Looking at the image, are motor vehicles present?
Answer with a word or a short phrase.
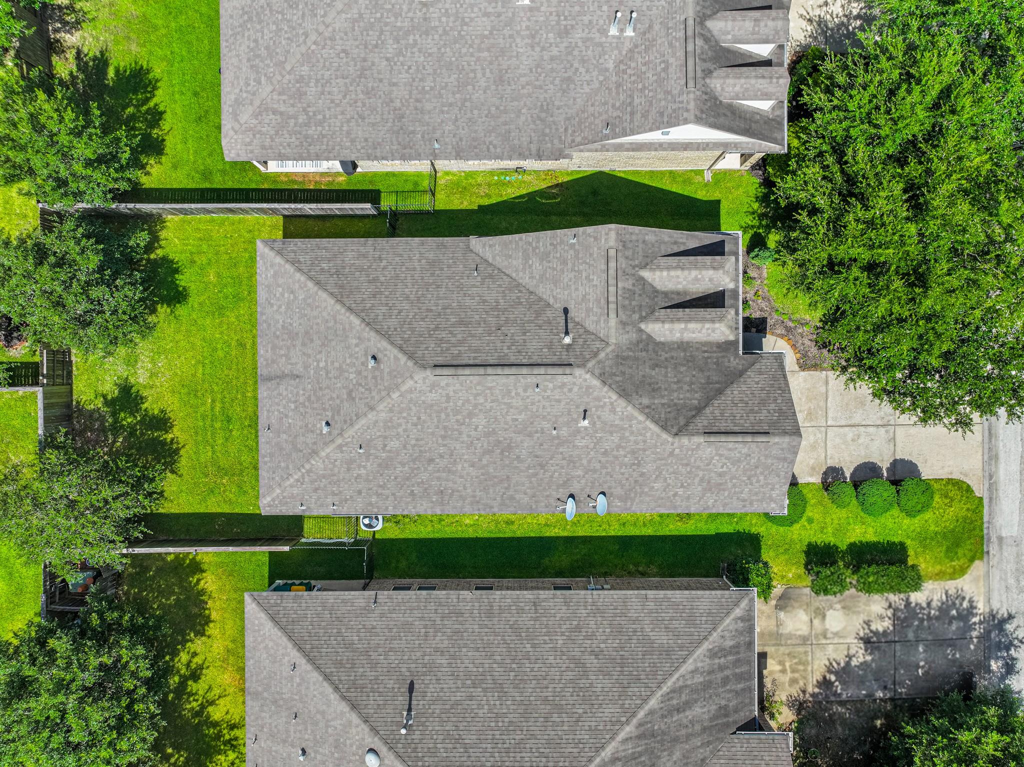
No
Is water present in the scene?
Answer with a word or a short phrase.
No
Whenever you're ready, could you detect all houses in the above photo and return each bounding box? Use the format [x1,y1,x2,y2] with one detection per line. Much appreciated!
[218,0,790,176]
[256,224,804,516]
[243,572,798,767]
